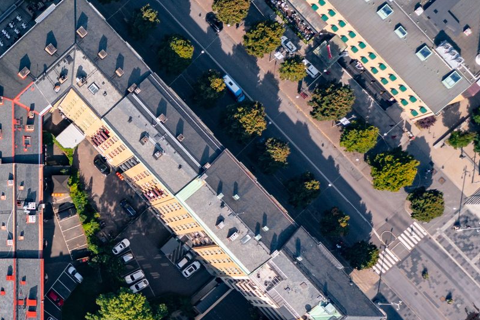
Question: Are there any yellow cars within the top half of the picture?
No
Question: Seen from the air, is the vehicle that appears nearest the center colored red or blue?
blue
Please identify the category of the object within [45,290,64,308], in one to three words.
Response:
car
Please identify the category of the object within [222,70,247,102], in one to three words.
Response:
vehicle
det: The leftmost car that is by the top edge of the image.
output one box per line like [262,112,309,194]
[204,10,223,32]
